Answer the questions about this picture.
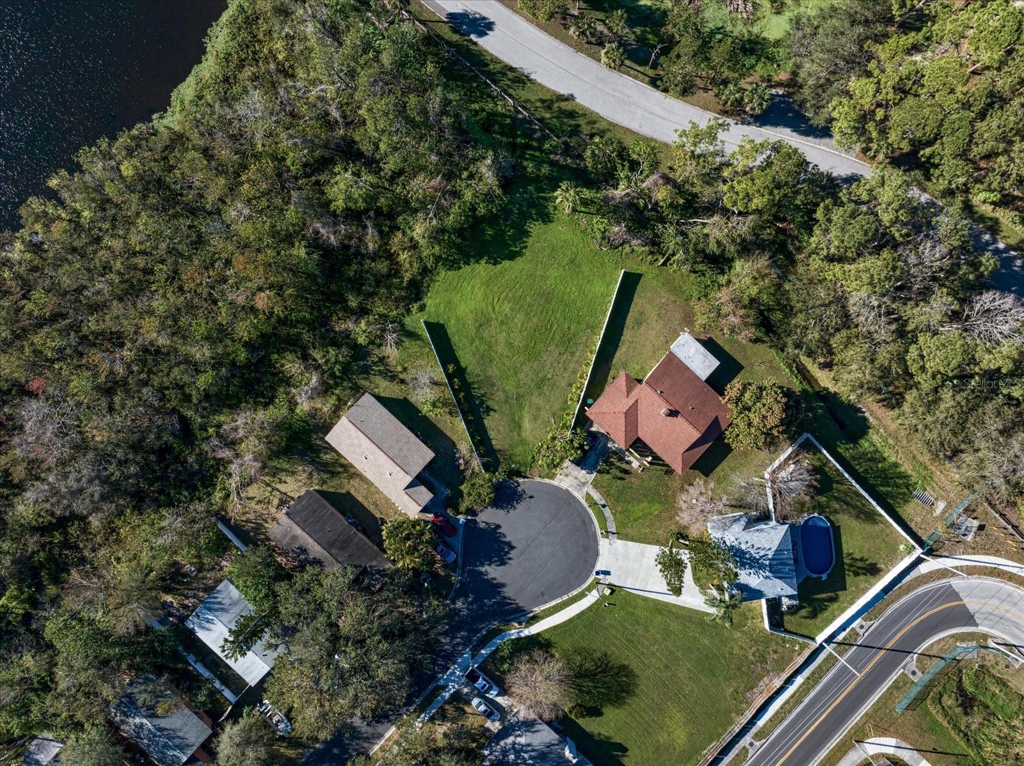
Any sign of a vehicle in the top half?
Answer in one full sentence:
No, no vehicle can be made out in the top half.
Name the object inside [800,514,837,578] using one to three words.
swimming pool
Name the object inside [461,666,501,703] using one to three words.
truck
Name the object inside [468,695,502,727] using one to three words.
car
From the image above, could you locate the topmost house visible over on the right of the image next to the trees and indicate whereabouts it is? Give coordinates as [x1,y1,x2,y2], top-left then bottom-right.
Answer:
[586,332,735,476]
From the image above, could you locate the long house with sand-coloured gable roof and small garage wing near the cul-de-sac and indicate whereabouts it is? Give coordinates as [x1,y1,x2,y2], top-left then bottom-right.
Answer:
[325,393,436,517]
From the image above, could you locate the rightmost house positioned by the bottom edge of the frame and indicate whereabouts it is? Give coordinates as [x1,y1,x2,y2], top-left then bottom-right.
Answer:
[485,701,595,766]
